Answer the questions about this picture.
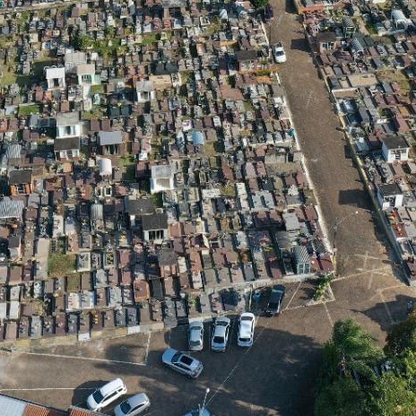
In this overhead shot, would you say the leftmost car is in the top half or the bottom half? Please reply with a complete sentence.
The bottom half of the photo is where the leftmost car is.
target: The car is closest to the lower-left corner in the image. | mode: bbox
[86,376,128,413]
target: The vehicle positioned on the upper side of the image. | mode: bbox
[272,44,285,61]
